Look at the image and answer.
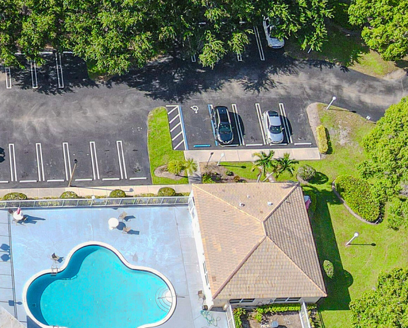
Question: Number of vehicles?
3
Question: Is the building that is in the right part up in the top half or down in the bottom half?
bottom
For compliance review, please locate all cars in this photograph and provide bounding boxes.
[211,107,236,145]
[260,12,282,46]
[262,110,285,146]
